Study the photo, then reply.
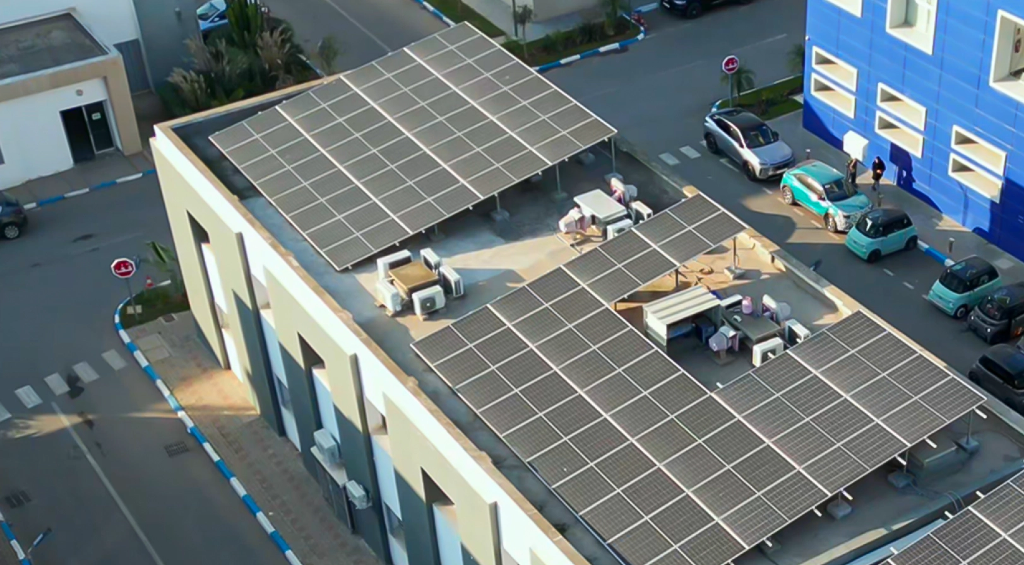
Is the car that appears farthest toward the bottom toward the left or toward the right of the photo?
right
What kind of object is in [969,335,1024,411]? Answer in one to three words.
car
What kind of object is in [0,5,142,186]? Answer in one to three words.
building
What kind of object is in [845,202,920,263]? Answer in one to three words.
car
